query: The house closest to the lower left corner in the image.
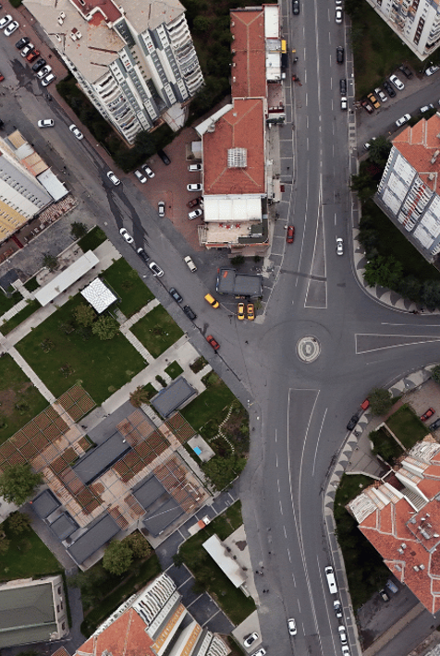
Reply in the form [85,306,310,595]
[0,576,67,647]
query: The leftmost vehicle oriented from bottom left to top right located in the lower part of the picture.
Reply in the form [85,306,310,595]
[185,514,211,537]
